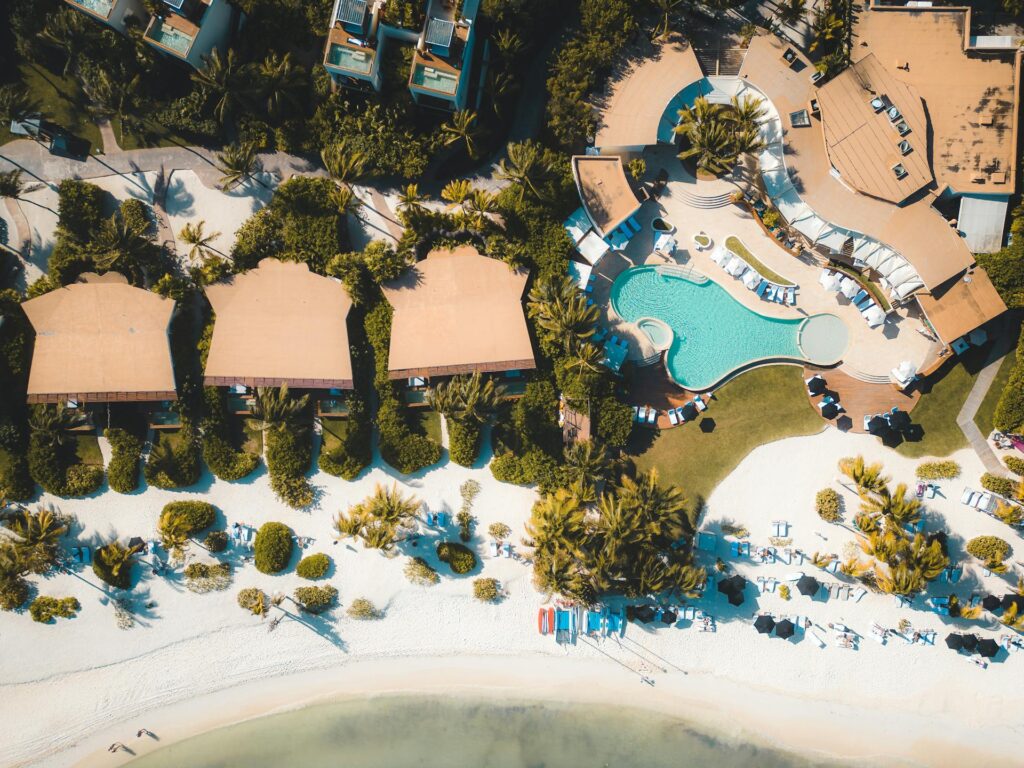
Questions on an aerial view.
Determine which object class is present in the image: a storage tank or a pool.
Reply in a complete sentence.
Looking from above, you can make out a pool.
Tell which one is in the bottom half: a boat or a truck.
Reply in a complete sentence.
There is a boat in the bottom half.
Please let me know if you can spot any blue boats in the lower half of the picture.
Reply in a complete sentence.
Yes, looking in the lower half of the picture, one can make out a blue boat.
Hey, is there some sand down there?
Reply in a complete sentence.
Yes, there's sand in this view.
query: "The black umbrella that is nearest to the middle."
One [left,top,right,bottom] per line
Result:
[681,401,699,420]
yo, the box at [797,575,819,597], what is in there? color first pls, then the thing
black umbrella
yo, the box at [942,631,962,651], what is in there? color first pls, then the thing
black umbrella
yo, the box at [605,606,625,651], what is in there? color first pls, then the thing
blue boat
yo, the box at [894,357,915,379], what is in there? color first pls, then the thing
white umbrella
